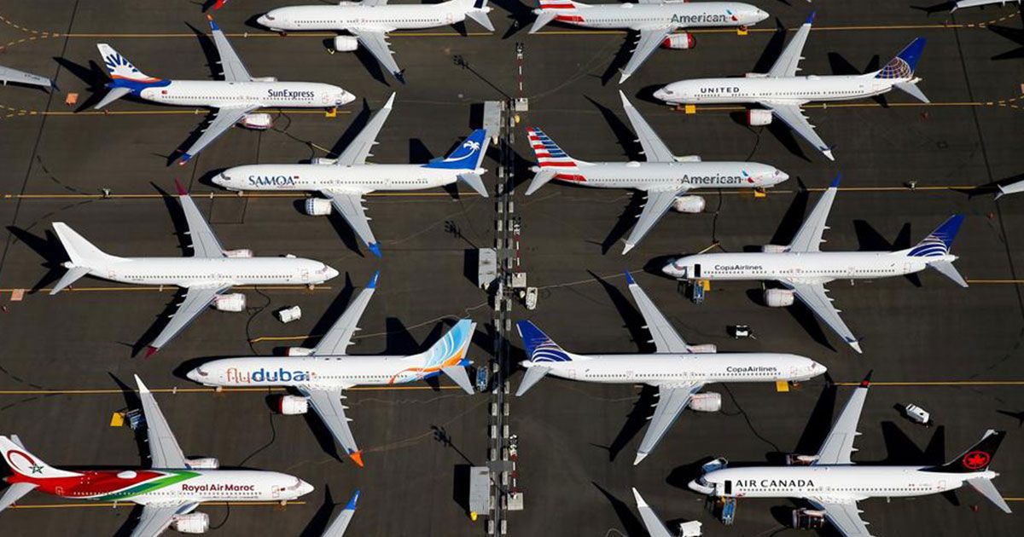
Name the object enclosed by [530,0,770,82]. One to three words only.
airplane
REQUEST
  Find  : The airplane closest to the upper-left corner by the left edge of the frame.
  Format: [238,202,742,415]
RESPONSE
[0,50,57,91]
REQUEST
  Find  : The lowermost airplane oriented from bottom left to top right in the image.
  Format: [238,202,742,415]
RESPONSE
[324,490,361,537]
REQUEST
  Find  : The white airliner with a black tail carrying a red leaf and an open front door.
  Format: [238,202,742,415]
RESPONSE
[688,369,1010,537]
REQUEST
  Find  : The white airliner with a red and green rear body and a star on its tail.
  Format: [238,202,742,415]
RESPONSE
[0,375,313,537]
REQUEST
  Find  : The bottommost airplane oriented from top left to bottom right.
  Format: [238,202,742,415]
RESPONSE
[632,487,670,537]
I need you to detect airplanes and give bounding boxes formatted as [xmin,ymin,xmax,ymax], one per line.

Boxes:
[0,50,57,91]
[632,487,670,537]
[0,375,313,537]
[950,0,1002,13]
[525,90,790,255]
[187,269,477,467]
[688,369,1010,537]
[530,0,770,82]
[257,0,494,82]
[95,15,354,165]
[324,490,361,537]
[51,178,338,359]
[653,9,931,160]
[515,267,827,466]
[662,172,969,353]
[212,92,492,257]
